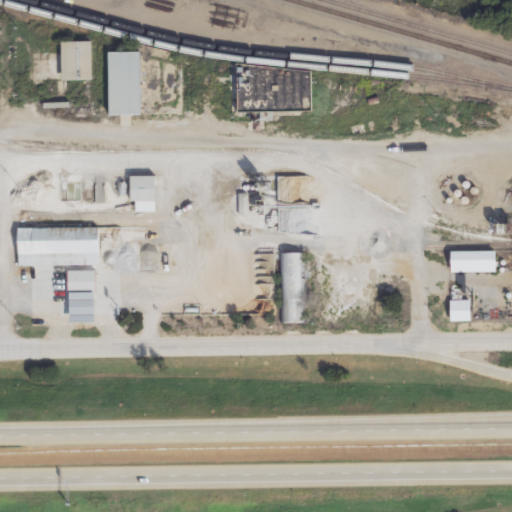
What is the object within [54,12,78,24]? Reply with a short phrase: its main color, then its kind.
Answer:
white rail car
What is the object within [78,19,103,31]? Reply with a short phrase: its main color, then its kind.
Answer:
white rail car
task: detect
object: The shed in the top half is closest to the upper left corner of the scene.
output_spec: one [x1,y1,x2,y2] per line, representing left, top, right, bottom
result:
[60,40,92,80]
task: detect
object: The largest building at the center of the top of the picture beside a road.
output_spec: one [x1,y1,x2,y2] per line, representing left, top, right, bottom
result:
[231,66,312,120]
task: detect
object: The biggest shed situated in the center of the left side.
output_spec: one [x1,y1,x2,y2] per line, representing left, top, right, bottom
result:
[16,226,98,266]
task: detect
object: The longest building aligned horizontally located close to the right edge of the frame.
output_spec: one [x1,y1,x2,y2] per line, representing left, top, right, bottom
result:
[451,250,496,273]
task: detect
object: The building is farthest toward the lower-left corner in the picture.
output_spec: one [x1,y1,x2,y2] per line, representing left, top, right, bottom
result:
[68,292,94,322]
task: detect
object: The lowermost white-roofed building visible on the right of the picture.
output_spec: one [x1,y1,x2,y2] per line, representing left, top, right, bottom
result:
[450,300,472,322]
